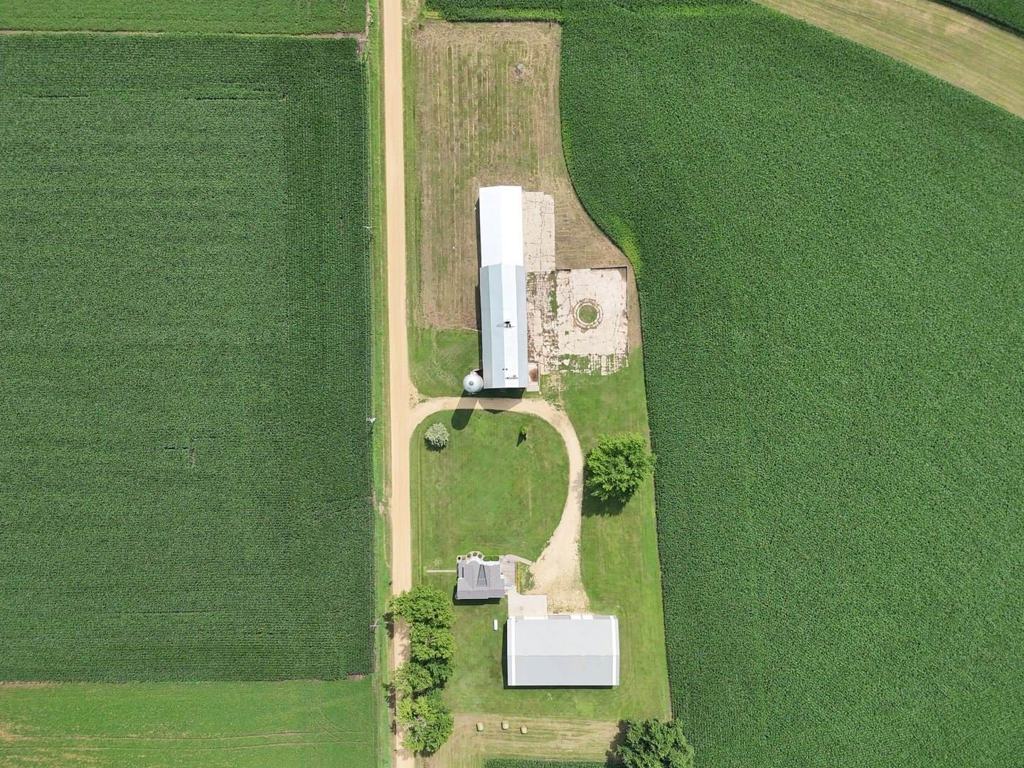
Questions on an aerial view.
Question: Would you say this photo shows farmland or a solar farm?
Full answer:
This looks like farmland.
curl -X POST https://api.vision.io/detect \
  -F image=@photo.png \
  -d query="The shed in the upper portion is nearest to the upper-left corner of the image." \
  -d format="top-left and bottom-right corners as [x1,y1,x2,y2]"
[479,186,524,267]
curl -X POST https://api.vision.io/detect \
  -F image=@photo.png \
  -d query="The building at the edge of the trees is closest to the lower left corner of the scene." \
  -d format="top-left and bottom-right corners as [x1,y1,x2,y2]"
[457,555,505,599]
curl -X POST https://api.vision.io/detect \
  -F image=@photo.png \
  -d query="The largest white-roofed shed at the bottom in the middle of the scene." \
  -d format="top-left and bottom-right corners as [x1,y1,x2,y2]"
[507,615,620,686]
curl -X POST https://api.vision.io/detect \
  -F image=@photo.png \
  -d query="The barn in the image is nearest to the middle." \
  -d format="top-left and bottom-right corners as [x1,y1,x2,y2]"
[480,262,528,389]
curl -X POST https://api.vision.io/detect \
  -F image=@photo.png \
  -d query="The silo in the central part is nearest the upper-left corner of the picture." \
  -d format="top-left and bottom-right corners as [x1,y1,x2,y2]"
[462,370,483,395]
